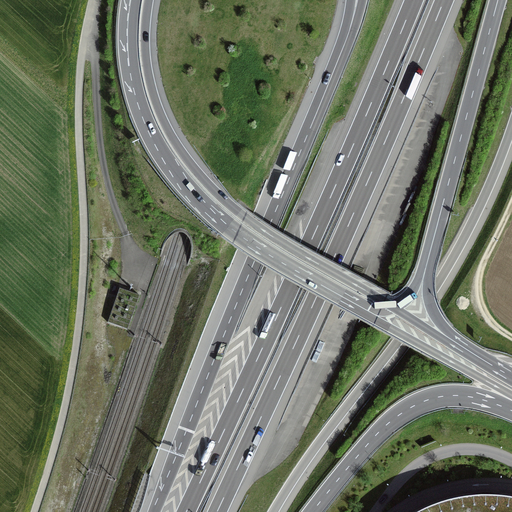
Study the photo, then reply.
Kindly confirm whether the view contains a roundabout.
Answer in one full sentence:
No, the frame has no roundabout in it.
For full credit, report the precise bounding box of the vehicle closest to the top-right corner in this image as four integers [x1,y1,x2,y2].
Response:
[406,67,424,98]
